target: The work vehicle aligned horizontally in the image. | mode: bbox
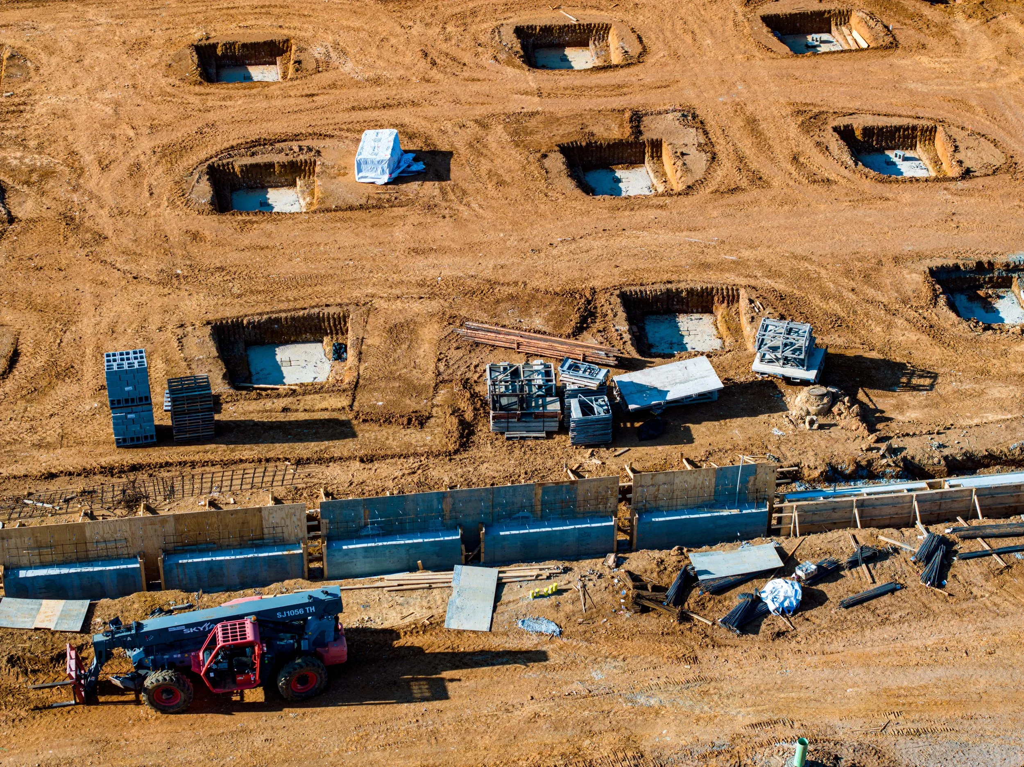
[29,585,347,715]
